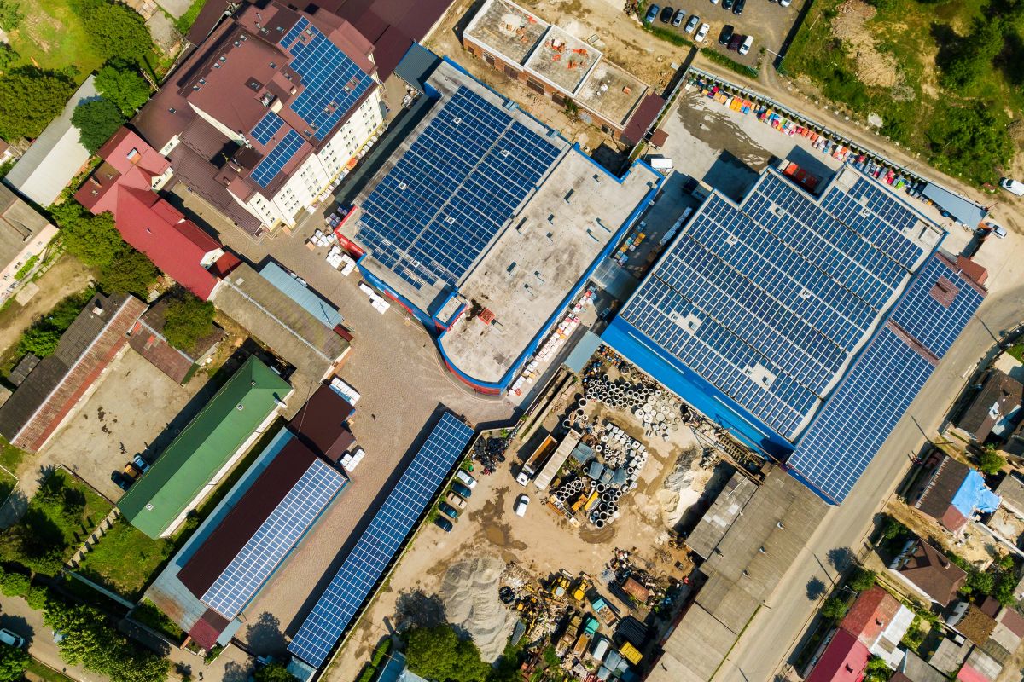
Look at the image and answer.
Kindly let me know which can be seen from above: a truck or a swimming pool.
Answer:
truck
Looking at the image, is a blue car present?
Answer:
Yes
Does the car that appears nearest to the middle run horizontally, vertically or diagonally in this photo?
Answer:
diagonally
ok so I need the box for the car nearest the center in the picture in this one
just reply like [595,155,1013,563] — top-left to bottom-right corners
[593,305,615,328]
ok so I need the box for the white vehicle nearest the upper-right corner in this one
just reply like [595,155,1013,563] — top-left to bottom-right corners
[997,175,1024,199]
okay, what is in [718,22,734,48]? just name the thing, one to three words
car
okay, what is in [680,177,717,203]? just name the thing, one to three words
truck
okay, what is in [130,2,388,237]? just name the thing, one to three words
building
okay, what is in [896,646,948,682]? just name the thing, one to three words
shed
